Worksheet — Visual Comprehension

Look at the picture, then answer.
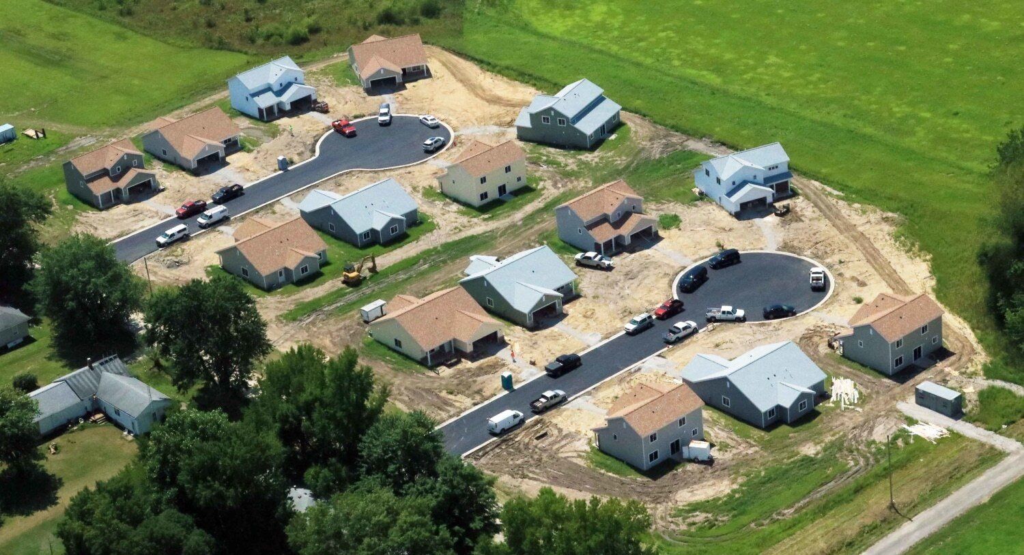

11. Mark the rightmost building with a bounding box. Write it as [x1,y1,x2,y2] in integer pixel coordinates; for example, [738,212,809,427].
[835,293,944,375]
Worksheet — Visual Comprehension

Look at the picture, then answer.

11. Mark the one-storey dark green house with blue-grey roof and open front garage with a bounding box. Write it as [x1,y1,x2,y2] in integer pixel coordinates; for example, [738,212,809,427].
[458,245,577,326]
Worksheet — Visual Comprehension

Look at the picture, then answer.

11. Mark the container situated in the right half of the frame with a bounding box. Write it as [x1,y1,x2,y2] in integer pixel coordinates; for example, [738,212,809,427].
[916,381,962,416]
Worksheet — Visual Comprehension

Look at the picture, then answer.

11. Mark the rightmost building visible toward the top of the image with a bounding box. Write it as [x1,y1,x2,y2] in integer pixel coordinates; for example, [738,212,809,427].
[693,142,795,216]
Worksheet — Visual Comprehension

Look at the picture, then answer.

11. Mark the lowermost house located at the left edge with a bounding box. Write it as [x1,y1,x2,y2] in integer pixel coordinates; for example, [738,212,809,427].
[33,354,174,435]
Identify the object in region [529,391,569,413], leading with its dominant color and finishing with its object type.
gray truck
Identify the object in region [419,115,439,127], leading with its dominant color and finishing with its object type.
white vehicle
